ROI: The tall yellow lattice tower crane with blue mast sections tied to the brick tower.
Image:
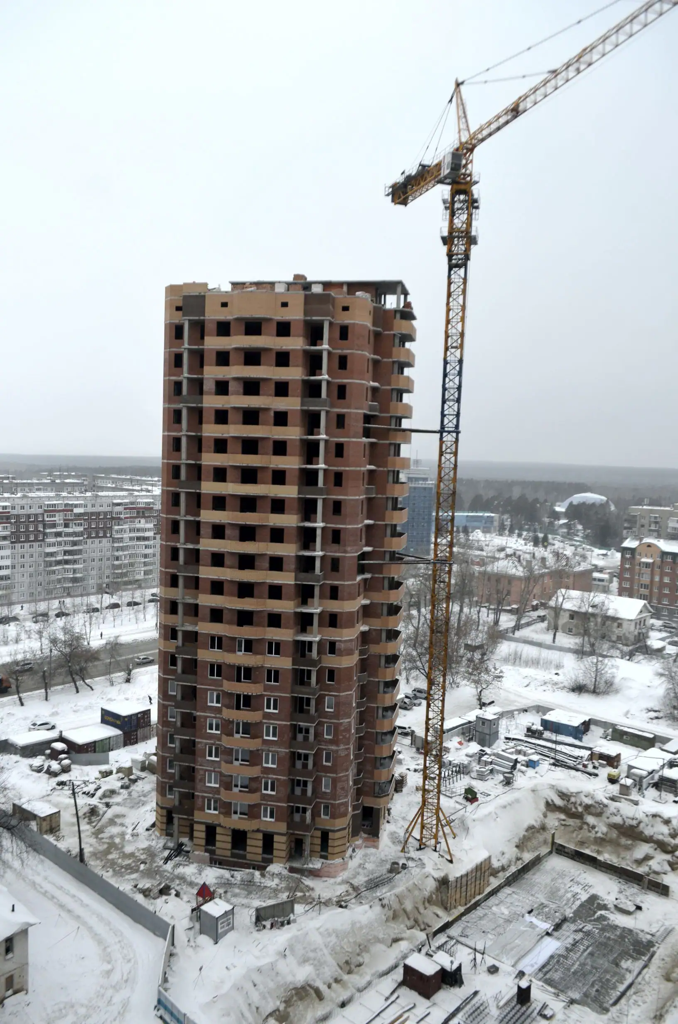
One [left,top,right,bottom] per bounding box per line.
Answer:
[361,0,678,865]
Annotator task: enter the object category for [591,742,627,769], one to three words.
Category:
shed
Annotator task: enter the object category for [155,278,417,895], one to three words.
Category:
building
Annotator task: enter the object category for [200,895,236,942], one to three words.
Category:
building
